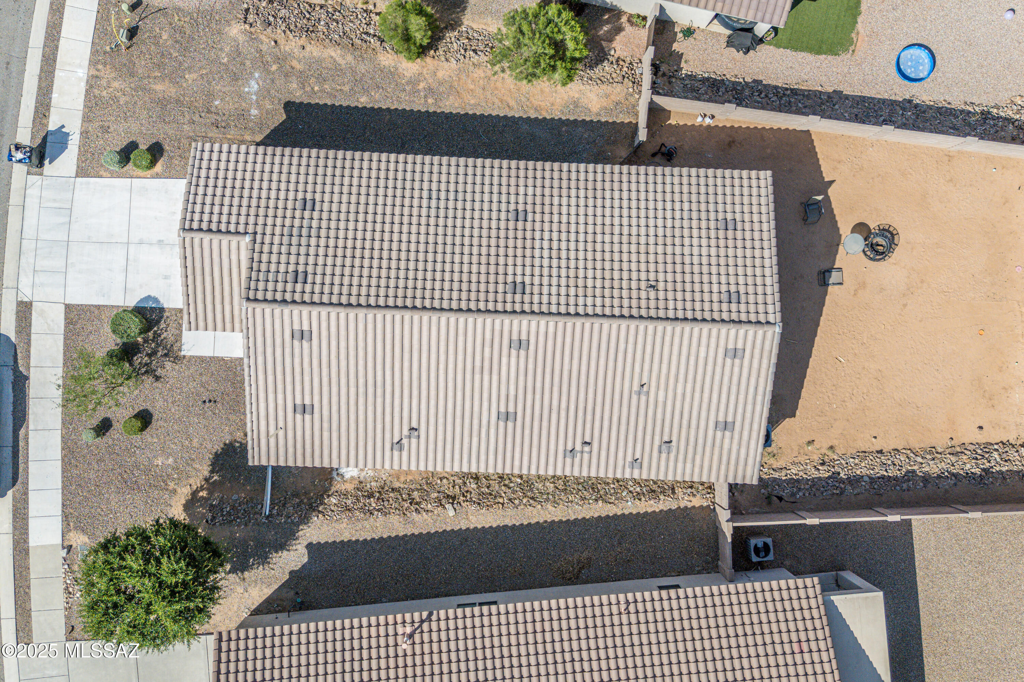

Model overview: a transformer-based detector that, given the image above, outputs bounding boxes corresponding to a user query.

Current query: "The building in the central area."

[177,141,782,486]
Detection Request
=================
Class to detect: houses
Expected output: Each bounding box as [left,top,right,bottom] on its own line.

[213,568,889,682]
[177,141,782,486]
[594,0,793,47]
